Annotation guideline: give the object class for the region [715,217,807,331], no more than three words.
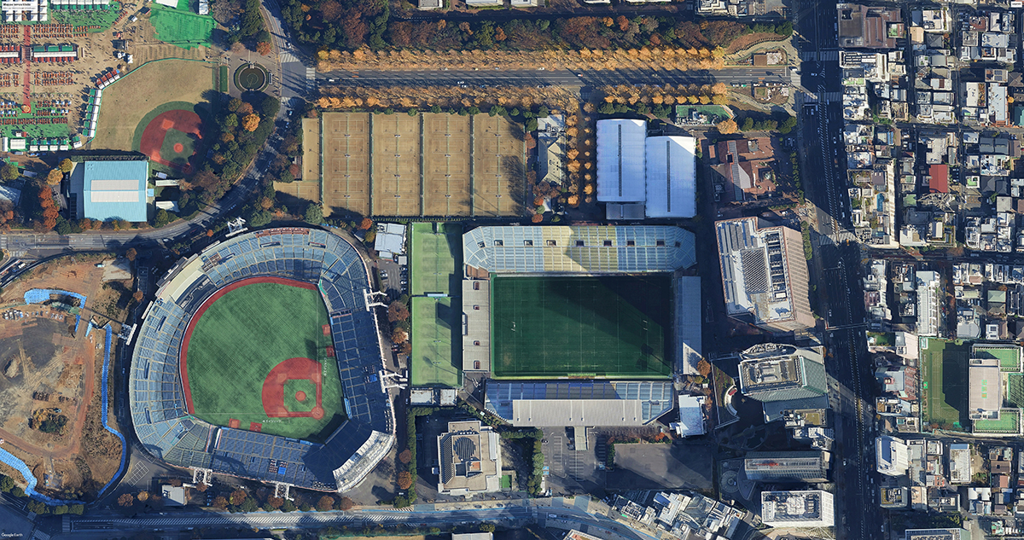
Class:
building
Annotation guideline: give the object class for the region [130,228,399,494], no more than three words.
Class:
stadium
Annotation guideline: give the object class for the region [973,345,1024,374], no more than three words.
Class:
sports court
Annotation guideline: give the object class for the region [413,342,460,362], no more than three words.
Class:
tennis court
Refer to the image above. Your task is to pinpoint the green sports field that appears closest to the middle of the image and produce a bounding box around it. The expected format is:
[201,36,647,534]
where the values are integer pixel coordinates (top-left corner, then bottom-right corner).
[491,273,672,380]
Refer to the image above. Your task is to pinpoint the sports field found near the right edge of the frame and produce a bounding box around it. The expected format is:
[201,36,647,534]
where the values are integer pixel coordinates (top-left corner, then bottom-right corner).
[921,338,973,432]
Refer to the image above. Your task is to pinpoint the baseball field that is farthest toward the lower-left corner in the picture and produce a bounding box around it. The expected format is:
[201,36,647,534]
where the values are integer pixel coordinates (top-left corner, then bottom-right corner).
[181,277,349,441]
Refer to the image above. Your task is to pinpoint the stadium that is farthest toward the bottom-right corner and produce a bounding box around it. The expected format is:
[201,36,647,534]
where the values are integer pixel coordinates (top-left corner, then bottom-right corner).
[462,225,702,450]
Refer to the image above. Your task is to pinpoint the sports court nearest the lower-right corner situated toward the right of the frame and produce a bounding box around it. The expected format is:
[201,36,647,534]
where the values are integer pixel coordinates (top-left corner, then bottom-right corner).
[973,407,1024,436]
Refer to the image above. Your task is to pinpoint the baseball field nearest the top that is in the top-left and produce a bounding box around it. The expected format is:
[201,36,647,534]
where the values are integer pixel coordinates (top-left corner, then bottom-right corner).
[90,60,218,177]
